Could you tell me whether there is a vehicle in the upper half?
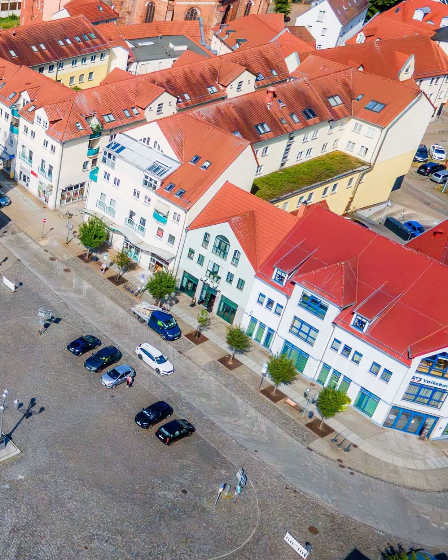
Yes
